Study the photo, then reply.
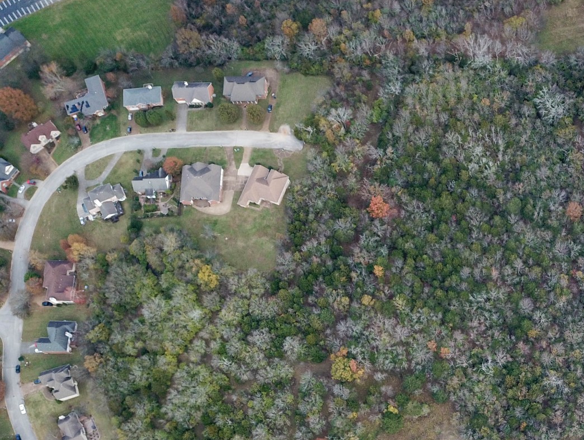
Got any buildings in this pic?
Yes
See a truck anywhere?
No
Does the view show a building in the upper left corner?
Yes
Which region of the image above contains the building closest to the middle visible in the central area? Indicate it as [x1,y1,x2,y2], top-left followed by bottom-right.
[239,166,290,208]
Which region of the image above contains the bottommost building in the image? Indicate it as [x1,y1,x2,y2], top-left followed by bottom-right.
[58,412,101,440]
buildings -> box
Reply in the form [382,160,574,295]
[21,120,63,151]
[123,85,163,110]
[83,184,129,222]
[169,82,213,106]
[222,77,266,104]
[58,412,101,440]
[239,166,290,208]
[0,26,31,68]
[34,319,79,353]
[177,162,224,208]
[130,168,171,200]
[45,258,78,305]
[38,364,84,401]
[64,75,112,120]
